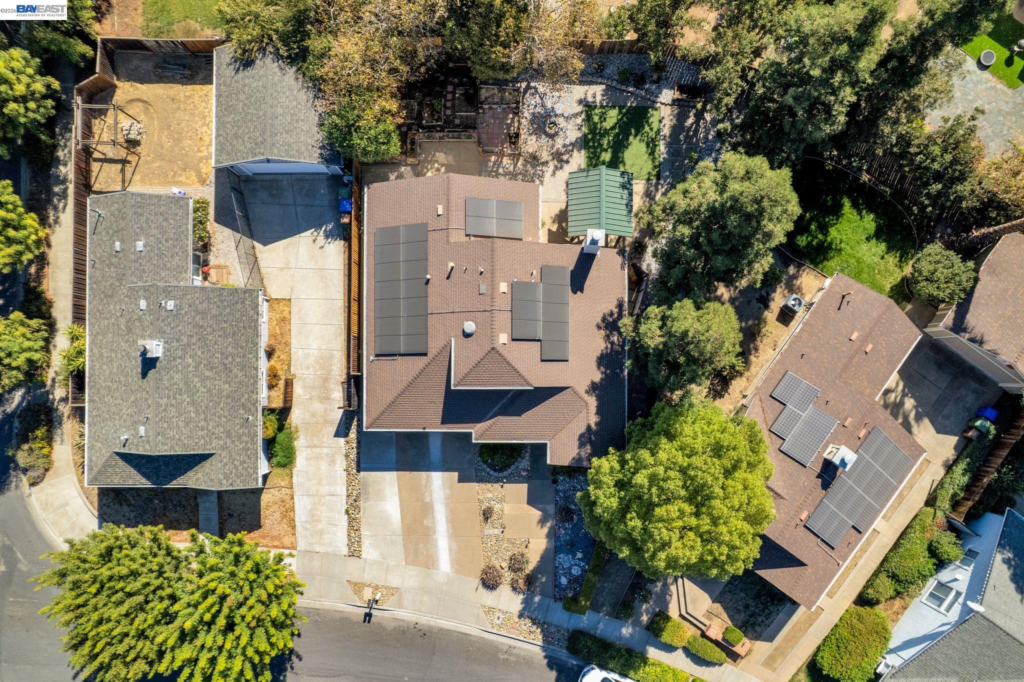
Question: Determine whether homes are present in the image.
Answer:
Yes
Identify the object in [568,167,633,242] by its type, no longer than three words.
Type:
building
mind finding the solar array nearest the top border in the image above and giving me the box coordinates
[466,197,523,238]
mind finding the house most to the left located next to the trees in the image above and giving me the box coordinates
[81,190,274,488]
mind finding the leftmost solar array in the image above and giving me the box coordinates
[375,223,428,354]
